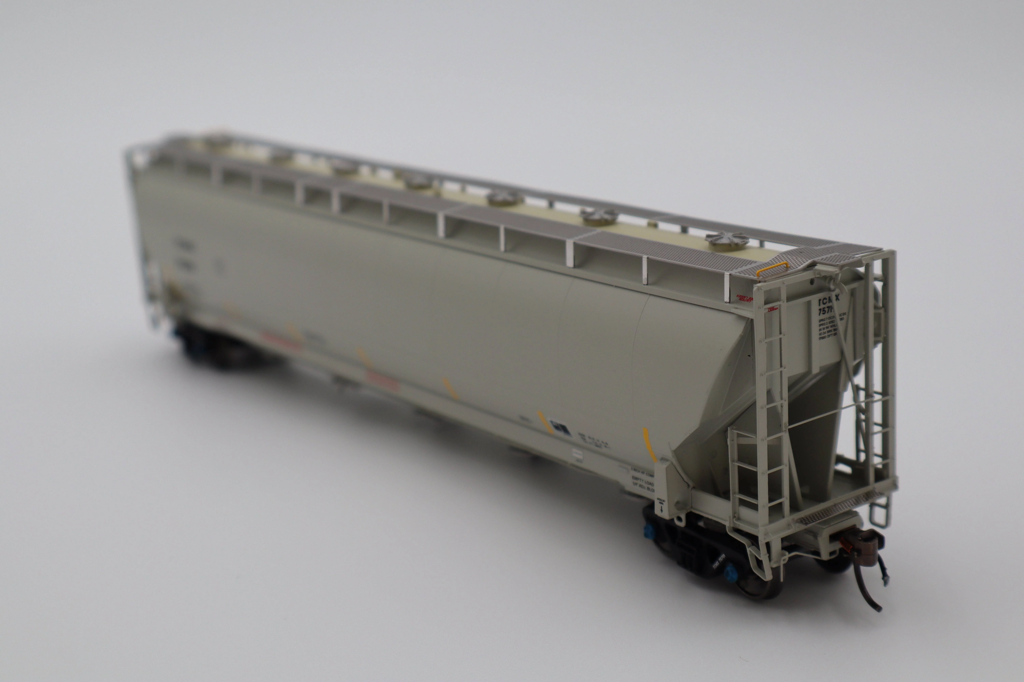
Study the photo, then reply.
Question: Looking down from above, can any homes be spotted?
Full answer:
No, I can't see a single home in this photo.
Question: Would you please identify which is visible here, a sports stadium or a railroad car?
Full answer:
It is a railroad car that can be seen here.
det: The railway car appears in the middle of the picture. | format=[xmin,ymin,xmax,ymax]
[128,129,899,612]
